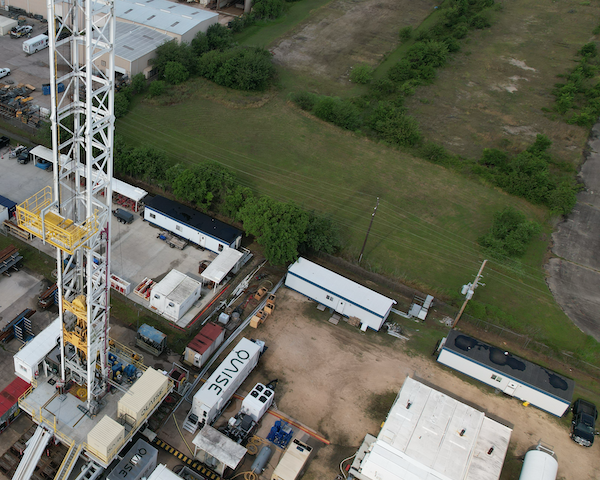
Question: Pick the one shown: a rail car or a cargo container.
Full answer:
Of the two, only a cargo container appears.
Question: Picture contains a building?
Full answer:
Yes, a building appears in the view.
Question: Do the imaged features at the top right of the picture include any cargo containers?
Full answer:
No, there's no cargo container to be seen at the top right of the picture.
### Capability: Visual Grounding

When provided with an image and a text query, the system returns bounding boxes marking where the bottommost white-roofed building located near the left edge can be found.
[14,305,77,390]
